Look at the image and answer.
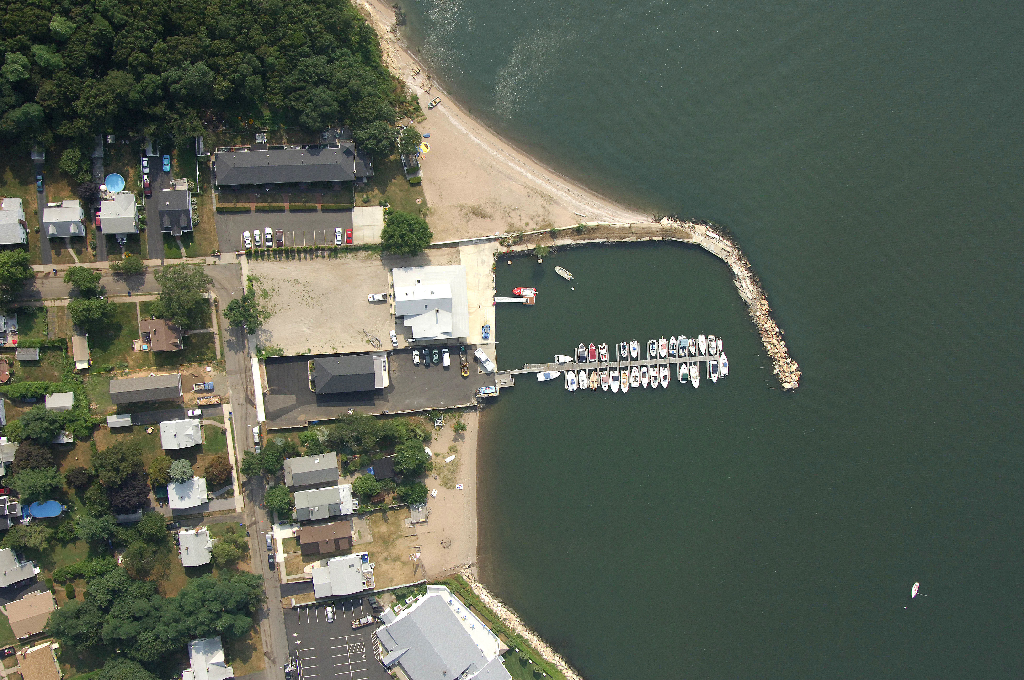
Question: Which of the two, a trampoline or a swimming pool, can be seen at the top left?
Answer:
swimming pool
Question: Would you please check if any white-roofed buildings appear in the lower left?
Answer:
Yes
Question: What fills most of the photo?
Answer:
water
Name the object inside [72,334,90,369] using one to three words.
building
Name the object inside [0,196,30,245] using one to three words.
house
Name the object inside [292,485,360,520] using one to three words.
house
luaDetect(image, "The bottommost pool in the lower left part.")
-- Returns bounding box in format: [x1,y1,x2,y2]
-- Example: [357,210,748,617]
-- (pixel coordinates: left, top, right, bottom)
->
[29,500,62,518]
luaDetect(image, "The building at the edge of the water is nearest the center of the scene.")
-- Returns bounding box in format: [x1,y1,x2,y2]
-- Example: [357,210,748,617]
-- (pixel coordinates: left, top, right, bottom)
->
[392,265,469,342]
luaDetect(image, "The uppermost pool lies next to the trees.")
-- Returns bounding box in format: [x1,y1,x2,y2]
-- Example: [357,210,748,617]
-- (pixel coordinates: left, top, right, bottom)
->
[105,173,125,193]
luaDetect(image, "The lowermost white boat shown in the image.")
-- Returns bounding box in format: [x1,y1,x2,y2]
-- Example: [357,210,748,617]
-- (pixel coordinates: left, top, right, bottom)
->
[911,582,930,602]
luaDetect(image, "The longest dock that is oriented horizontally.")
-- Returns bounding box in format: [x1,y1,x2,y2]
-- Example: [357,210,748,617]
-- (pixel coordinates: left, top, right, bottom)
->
[524,337,720,388]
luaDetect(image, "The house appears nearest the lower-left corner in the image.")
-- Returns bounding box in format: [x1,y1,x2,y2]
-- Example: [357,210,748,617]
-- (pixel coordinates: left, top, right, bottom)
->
[17,641,63,680]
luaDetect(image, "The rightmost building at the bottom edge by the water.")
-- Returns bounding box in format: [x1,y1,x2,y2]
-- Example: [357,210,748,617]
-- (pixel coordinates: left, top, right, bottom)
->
[376,584,512,680]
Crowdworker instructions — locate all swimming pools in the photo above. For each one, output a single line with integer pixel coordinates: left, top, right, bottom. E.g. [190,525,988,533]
[29,500,62,518]
[105,173,125,193]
